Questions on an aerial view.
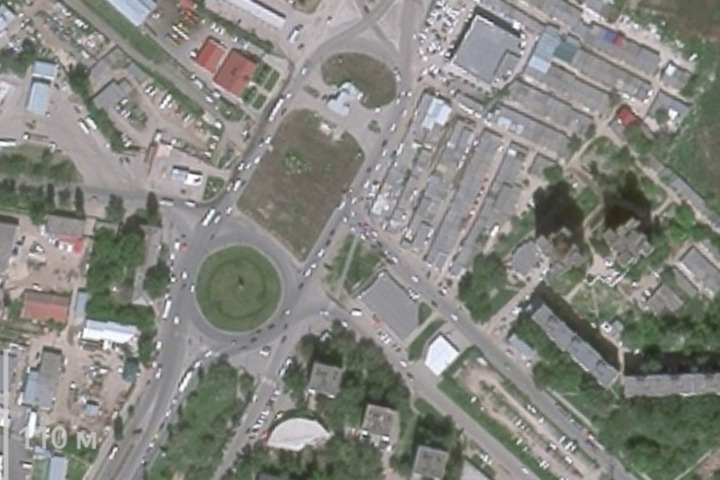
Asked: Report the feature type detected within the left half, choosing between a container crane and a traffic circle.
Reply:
traffic circle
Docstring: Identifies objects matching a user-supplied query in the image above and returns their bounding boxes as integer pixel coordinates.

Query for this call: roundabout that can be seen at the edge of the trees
[188,226,297,347]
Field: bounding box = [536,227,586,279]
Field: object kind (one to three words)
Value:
building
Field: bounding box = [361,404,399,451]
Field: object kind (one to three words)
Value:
building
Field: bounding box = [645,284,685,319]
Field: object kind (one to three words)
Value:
house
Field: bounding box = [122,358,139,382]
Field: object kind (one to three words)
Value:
shed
